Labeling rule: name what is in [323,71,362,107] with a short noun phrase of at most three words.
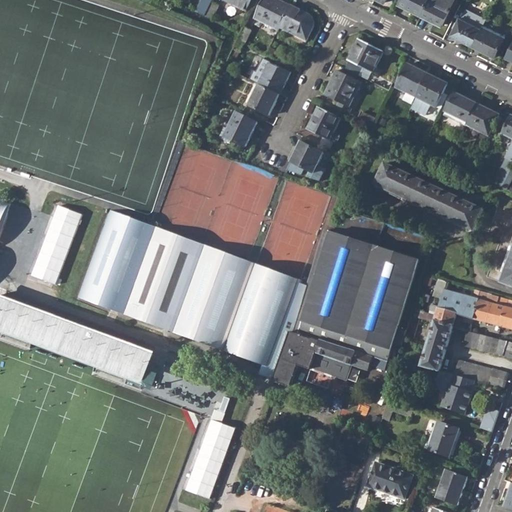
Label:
house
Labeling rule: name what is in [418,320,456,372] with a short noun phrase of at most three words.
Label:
house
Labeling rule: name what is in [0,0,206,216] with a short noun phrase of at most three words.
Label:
sports field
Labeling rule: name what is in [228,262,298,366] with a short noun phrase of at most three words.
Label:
building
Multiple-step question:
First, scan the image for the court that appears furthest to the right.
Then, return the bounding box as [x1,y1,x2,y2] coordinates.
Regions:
[256,182,330,278]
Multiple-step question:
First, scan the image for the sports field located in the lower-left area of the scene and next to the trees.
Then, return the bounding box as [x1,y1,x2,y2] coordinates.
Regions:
[0,341,198,512]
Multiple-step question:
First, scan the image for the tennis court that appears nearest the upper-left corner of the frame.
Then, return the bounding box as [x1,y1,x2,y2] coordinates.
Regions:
[161,150,277,256]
